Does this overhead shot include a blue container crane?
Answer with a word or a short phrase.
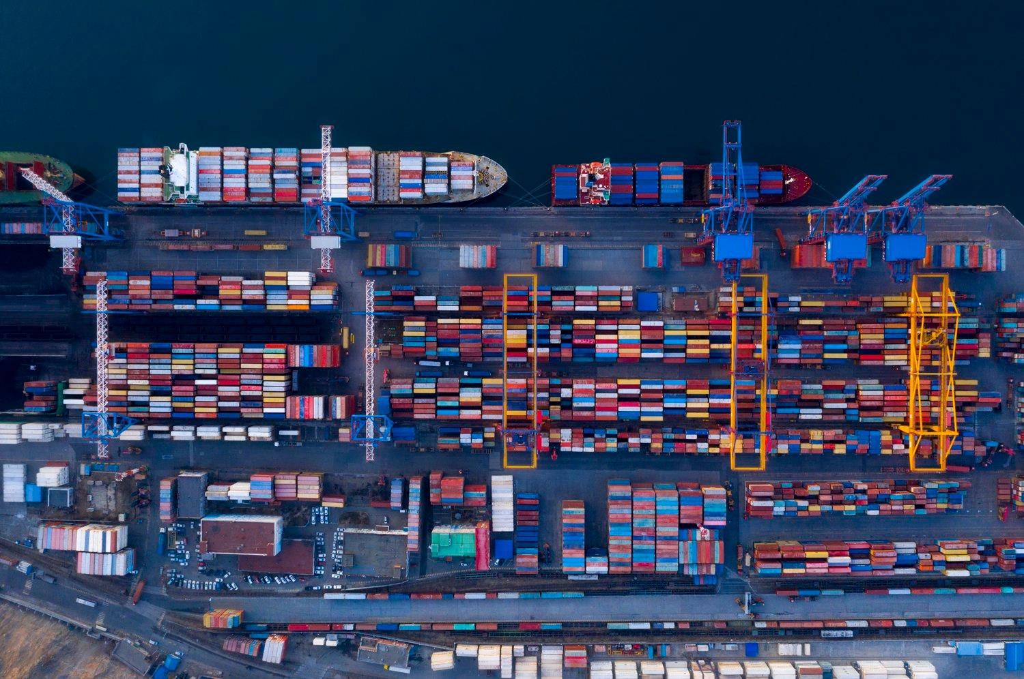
Yes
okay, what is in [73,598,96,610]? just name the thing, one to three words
vehicle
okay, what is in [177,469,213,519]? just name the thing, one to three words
building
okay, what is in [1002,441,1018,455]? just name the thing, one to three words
work vehicle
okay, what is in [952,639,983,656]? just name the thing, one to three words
shed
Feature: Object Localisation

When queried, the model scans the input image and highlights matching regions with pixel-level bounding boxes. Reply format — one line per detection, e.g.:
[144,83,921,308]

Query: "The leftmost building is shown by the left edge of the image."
[47,486,76,508]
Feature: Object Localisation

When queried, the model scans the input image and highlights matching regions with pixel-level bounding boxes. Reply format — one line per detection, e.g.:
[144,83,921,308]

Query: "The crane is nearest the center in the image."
[495,273,546,471]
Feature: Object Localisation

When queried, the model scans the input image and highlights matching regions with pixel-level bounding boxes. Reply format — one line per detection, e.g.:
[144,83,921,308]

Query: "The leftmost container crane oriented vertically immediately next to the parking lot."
[79,280,152,459]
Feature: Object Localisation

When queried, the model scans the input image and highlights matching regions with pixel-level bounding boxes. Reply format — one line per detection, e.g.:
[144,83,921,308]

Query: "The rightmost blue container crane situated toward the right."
[855,174,955,283]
